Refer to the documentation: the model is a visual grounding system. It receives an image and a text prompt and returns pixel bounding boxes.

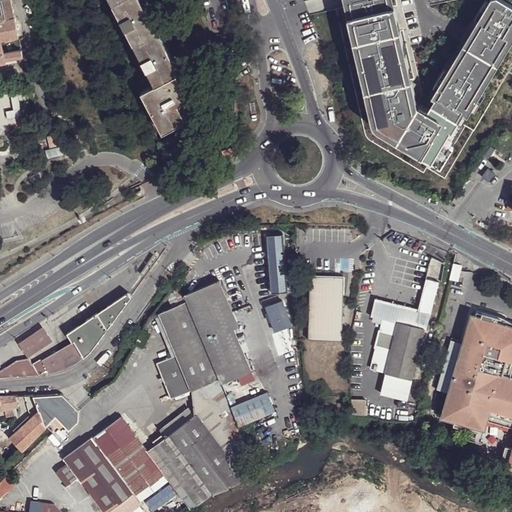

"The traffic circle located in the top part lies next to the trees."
[249,116,342,207]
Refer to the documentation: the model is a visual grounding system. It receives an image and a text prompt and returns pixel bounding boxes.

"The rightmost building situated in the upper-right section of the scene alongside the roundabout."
[341,0,512,180]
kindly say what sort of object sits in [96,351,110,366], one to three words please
vehicle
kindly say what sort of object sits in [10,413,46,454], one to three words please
house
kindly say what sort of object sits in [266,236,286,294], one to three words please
shed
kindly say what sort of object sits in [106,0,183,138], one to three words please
building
